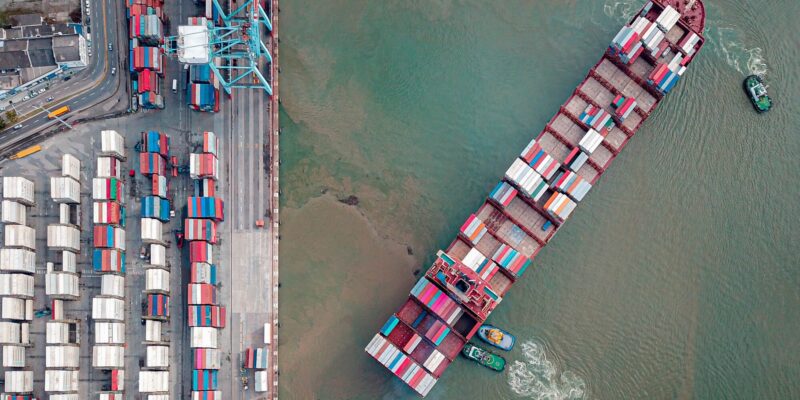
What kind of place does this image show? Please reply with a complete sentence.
What you see here is a port.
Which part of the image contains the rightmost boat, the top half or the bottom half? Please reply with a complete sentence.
It is in the top half that the rightmost boat appears.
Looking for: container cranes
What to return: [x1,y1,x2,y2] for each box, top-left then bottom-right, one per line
[158,0,272,101]
[212,0,272,37]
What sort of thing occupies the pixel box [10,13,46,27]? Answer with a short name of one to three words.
building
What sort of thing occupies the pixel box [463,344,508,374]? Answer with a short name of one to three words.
boat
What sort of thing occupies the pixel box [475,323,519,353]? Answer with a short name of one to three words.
boat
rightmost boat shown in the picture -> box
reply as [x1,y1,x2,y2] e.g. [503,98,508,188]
[743,70,777,114]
